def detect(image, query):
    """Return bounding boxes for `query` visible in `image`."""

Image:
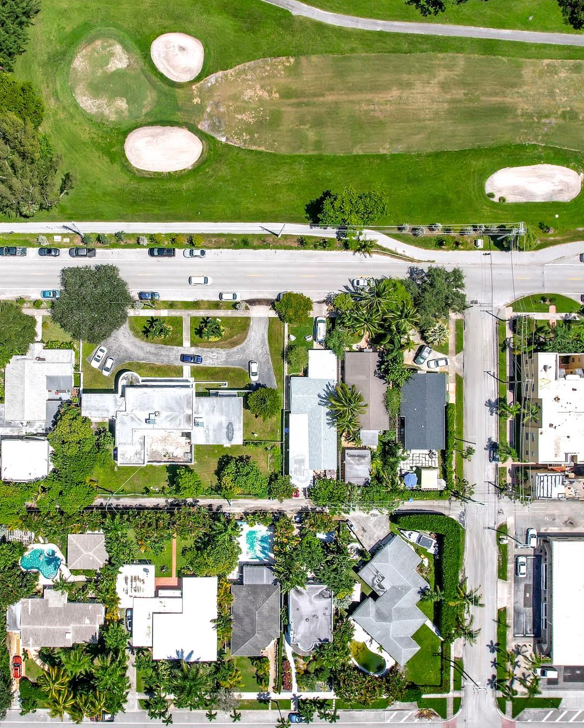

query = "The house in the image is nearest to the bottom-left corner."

[7,587,104,651]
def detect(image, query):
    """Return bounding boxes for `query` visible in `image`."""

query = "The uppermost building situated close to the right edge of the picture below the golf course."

[520,353,584,463]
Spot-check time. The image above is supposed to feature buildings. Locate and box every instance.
[541,535,584,665]
[81,371,252,465]
[526,468,584,499]
[342,448,370,484]
[5,343,74,429]
[289,579,332,651]
[351,535,429,667]
[1,437,51,481]
[520,353,584,463]
[287,349,338,487]
[67,533,107,570]
[399,373,445,450]
[231,563,280,655]
[7,587,104,651]
[118,561,217,662]
[344,348,389,445]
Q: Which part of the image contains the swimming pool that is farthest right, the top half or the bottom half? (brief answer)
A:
bottom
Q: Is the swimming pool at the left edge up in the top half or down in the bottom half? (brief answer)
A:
bottom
